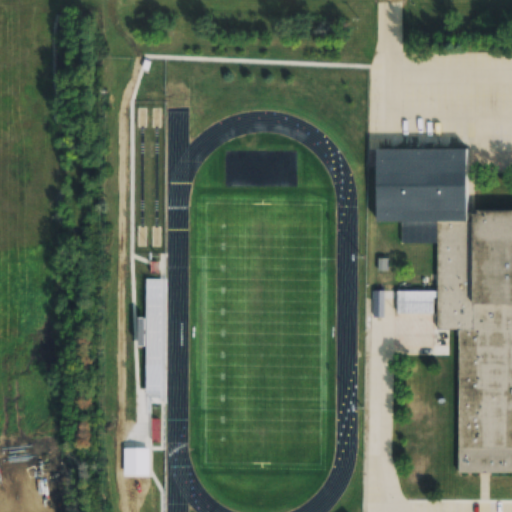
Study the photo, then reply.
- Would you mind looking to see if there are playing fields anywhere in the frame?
Yes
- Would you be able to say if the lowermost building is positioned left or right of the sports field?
left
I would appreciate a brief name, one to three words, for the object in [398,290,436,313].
shed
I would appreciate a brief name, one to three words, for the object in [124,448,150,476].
building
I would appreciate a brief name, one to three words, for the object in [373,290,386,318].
shed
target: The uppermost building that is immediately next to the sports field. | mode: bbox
[375,149,470,244]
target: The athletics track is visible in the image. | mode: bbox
[168,110,358,512]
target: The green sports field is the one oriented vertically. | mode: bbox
[200,199,328,471]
